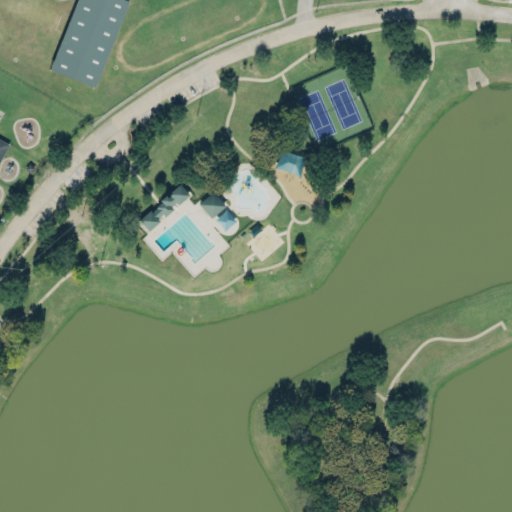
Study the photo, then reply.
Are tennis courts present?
Yes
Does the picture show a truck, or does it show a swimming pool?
swimming pool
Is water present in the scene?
Yes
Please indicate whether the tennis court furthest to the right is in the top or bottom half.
top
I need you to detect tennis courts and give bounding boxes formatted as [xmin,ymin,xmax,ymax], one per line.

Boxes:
[302,90,336,140]
[326,80,362,130]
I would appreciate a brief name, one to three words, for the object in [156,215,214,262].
swimming pool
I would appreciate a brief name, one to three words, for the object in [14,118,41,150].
playground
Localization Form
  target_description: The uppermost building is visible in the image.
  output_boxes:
[52,0,129,88]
